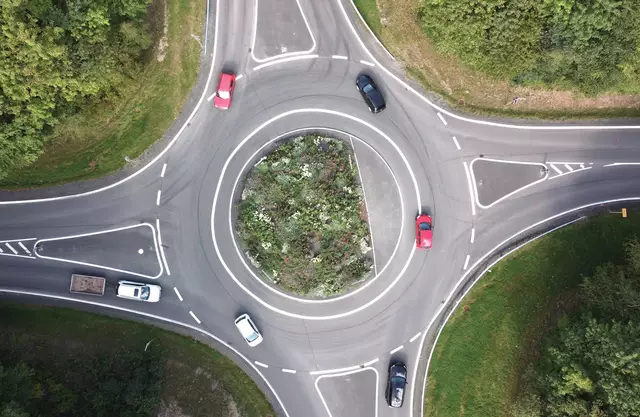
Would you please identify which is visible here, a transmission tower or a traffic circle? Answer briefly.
traffic circle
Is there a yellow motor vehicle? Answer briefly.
No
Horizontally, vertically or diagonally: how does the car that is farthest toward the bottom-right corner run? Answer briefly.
vertically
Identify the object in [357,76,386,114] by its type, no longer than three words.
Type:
car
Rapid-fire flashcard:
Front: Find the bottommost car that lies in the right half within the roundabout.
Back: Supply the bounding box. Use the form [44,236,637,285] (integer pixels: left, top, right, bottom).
[415,213,434,248]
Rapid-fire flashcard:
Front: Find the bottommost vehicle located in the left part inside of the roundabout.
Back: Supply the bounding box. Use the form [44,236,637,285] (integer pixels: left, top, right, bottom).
[236,314,263,346]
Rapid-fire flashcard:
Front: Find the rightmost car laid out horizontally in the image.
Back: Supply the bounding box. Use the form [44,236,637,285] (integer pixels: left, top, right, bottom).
[114,281,162,304]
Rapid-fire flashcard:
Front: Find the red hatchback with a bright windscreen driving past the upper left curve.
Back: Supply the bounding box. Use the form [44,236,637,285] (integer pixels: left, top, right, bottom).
[214,73,236,109]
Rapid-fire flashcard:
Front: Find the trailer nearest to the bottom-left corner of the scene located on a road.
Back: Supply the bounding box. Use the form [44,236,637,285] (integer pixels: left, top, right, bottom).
[71,274,117,296]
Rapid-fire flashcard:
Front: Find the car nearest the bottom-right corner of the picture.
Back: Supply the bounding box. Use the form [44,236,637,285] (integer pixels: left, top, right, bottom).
[388,364,409,408]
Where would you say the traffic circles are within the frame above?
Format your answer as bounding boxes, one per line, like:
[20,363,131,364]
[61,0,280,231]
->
[156,54,475,374]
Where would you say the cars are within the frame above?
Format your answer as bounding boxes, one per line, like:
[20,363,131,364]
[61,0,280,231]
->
[415,213,434,248]
[214,73,236,109]
[236,314,263,346]
[357,76,386,114]
[114,281,162,304]
[388,364,409,408]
